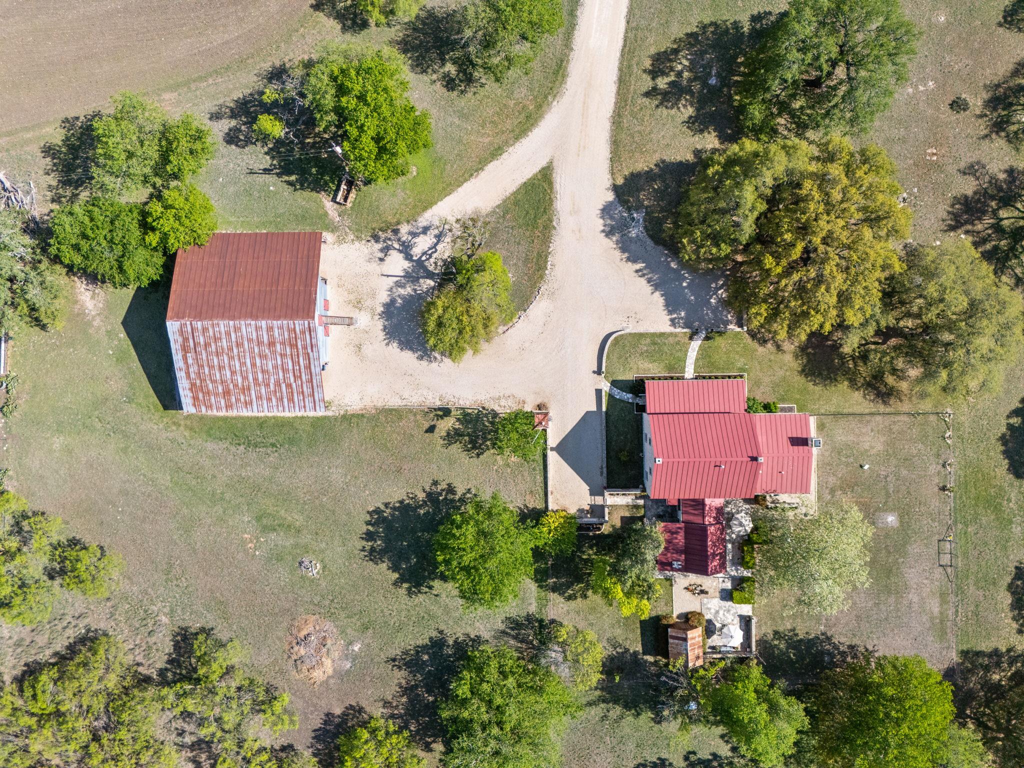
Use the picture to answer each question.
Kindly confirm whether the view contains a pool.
No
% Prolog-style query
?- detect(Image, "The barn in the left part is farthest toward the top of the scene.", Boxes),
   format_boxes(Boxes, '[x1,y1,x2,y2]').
[164,231,330,412]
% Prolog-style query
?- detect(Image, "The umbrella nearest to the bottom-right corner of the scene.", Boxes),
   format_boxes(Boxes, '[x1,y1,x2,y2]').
[719,622,742,646]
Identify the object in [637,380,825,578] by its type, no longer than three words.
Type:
house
